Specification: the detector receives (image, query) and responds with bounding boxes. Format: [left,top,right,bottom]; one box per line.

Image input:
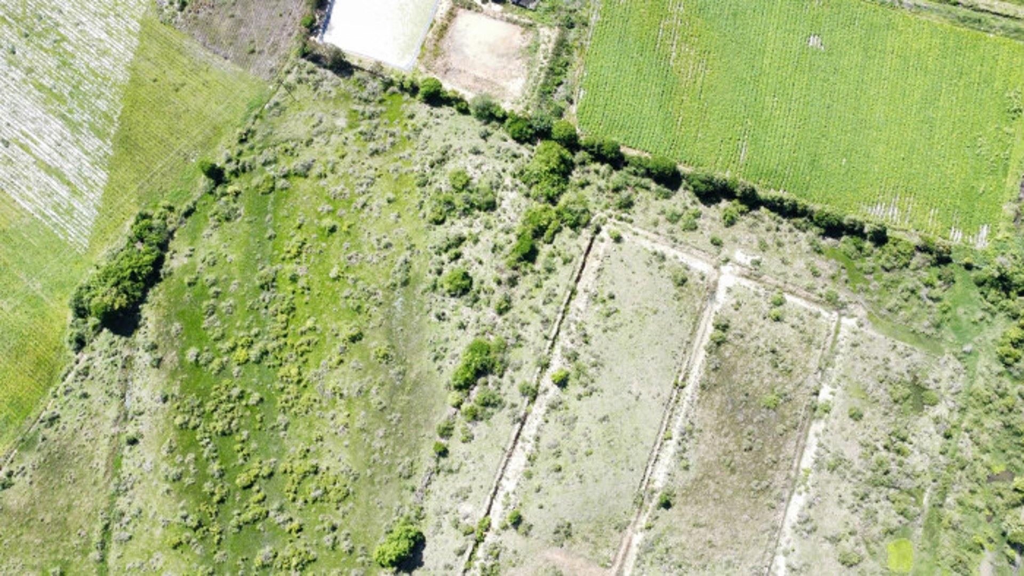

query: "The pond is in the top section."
[424,9,536,109]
